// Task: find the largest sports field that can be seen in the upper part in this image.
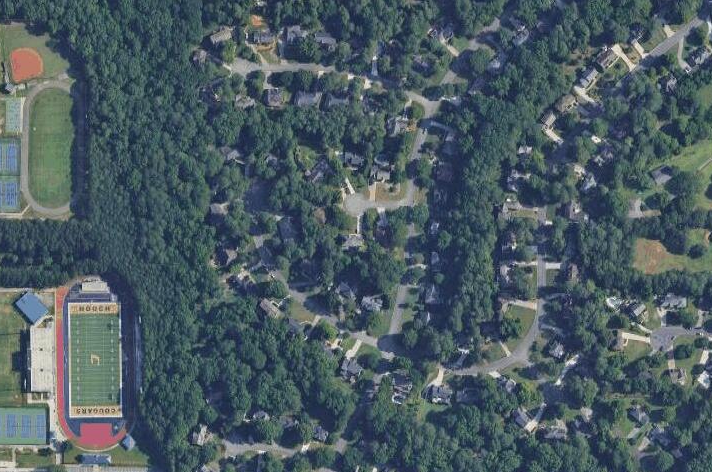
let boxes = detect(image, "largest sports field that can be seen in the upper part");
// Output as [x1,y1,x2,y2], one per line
[29,86,77,209]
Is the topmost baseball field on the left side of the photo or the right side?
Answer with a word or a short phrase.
left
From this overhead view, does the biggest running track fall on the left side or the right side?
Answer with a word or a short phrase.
left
